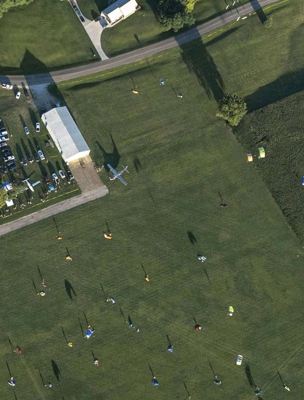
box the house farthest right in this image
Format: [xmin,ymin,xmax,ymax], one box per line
[104,2,143,27]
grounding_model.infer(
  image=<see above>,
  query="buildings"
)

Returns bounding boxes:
[38,108,91,165]
[104,2,143,27]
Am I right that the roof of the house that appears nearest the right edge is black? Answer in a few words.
No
